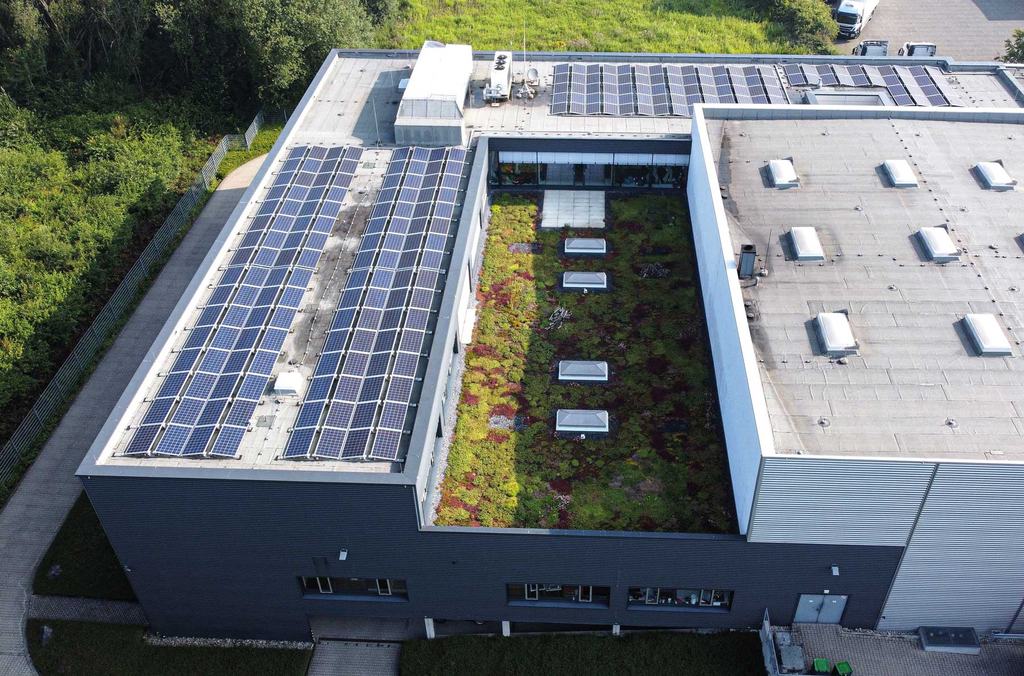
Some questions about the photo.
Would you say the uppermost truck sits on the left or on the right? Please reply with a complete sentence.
The uppermost truck is on the right side of the image.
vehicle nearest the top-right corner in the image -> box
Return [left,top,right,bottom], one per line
[900,41,936,57]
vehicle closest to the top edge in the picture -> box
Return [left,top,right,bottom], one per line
[837,0,882,35]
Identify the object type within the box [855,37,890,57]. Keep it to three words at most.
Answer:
vehicle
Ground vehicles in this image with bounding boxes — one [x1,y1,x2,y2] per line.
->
[900,41,936,57]
[855,37,890,57]
[837,0,882,35]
